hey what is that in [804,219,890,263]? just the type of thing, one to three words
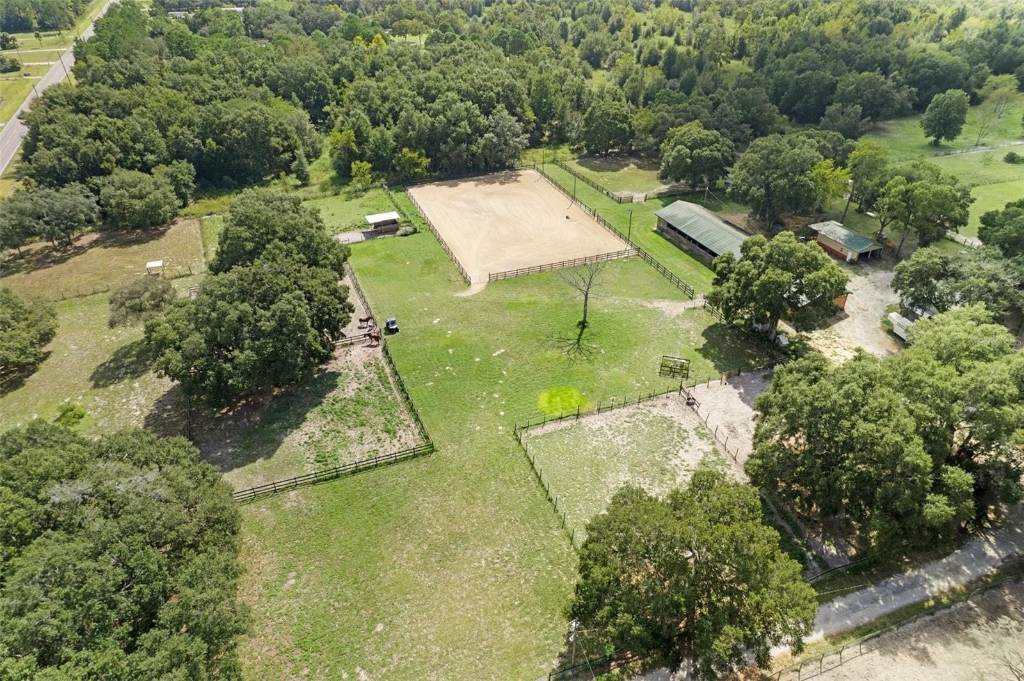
building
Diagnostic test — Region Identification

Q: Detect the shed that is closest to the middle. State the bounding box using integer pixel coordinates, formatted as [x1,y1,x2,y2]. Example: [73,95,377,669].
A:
[366,213,400,235]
